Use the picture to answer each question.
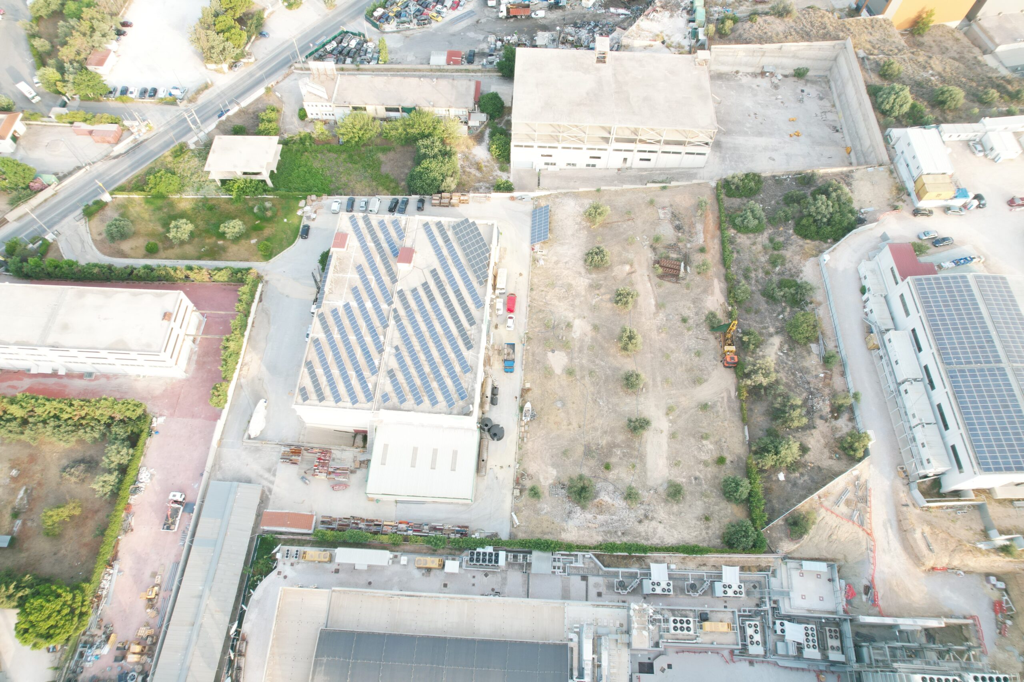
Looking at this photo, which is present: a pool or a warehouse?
warehouse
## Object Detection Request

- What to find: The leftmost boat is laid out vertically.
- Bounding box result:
[246,392,267,442]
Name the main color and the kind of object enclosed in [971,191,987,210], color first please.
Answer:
gray car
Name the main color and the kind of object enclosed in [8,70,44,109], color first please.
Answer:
white truck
